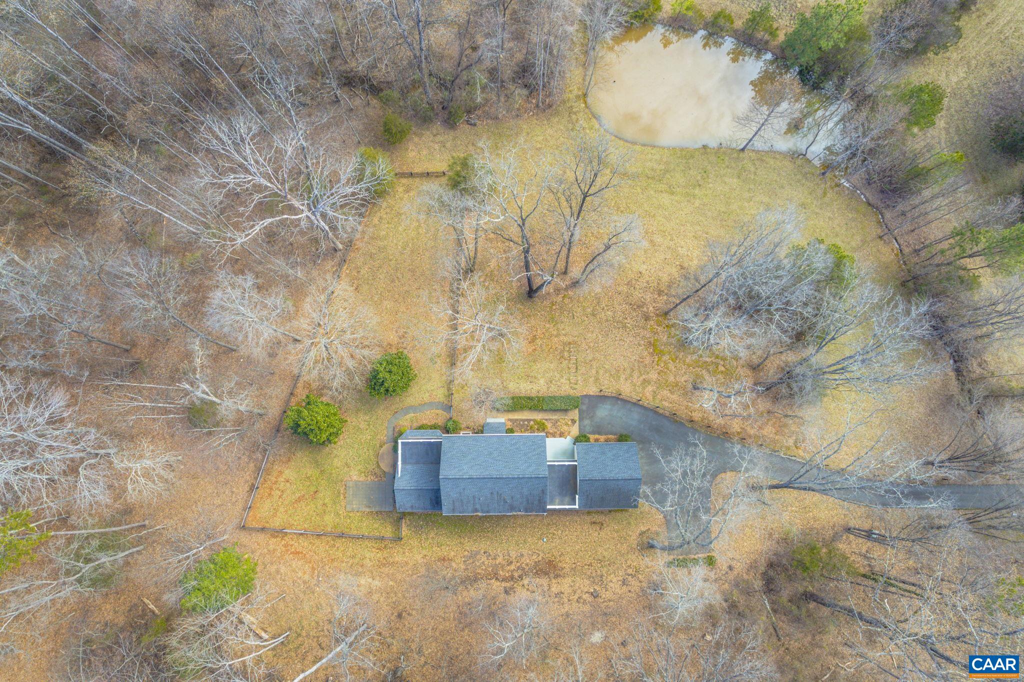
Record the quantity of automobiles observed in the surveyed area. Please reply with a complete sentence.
The photo contains no automobiles.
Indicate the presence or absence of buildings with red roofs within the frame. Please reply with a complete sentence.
No, I can't see a single building with a red roof in this photo.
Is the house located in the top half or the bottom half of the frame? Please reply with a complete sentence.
You can find the house in the bottom half.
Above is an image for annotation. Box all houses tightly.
[395,418,643,516]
